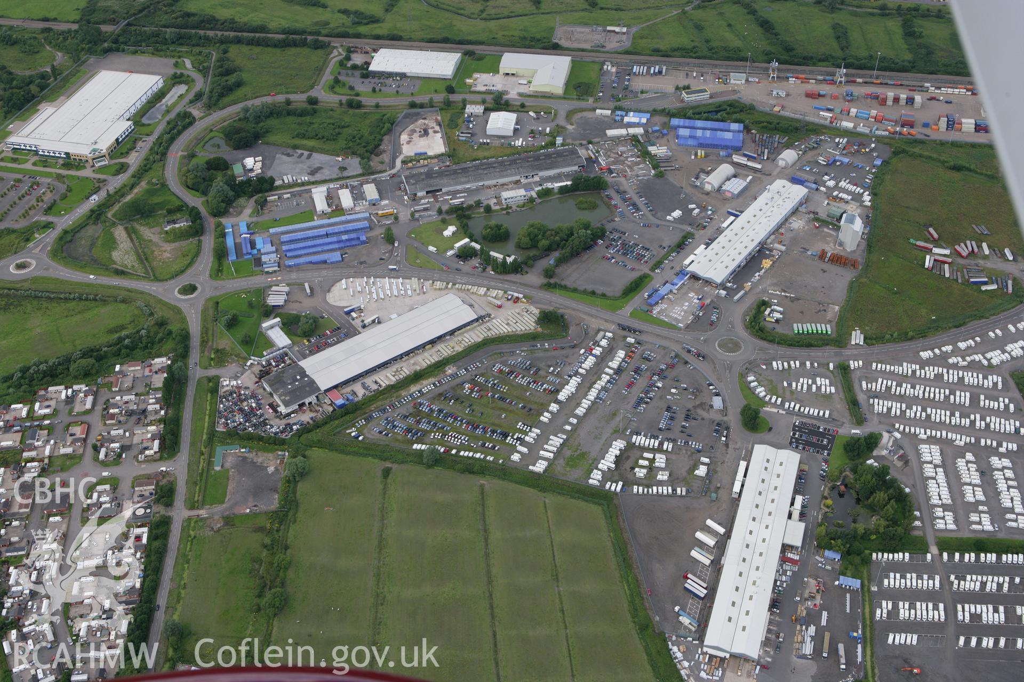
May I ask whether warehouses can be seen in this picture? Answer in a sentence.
Yes, there is a warehouse in the image.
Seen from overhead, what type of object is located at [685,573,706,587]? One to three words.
vehicle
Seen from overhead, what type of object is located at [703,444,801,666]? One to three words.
building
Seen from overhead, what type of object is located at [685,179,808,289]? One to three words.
warehouse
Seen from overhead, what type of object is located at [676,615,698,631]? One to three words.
vehicle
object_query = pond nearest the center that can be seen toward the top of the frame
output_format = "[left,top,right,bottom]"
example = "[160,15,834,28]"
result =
[468,192,611,259]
